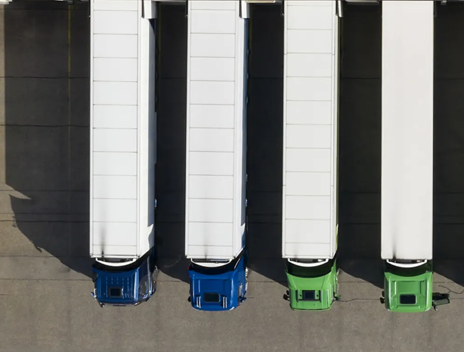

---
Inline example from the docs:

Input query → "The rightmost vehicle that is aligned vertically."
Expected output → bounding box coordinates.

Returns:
[378,0,449,314]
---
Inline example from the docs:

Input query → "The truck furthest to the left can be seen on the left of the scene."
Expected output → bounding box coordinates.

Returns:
[86,0,161,310]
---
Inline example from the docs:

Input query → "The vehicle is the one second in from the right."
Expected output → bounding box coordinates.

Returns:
[280,0,343,312]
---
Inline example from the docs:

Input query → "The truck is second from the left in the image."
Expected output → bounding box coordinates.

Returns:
[183,0,252,312]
